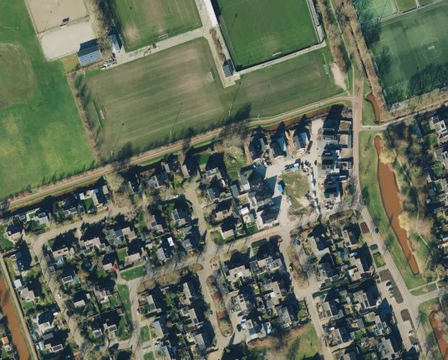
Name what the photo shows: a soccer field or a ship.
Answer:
soccer field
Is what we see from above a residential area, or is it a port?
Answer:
residential area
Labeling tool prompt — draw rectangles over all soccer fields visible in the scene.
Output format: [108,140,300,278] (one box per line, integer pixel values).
[214,0,319,67]
[369,0,448,104]
[226,47,342,116]
[110,0,201,53]
[80,40,230,161]
[351,0,401,24]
